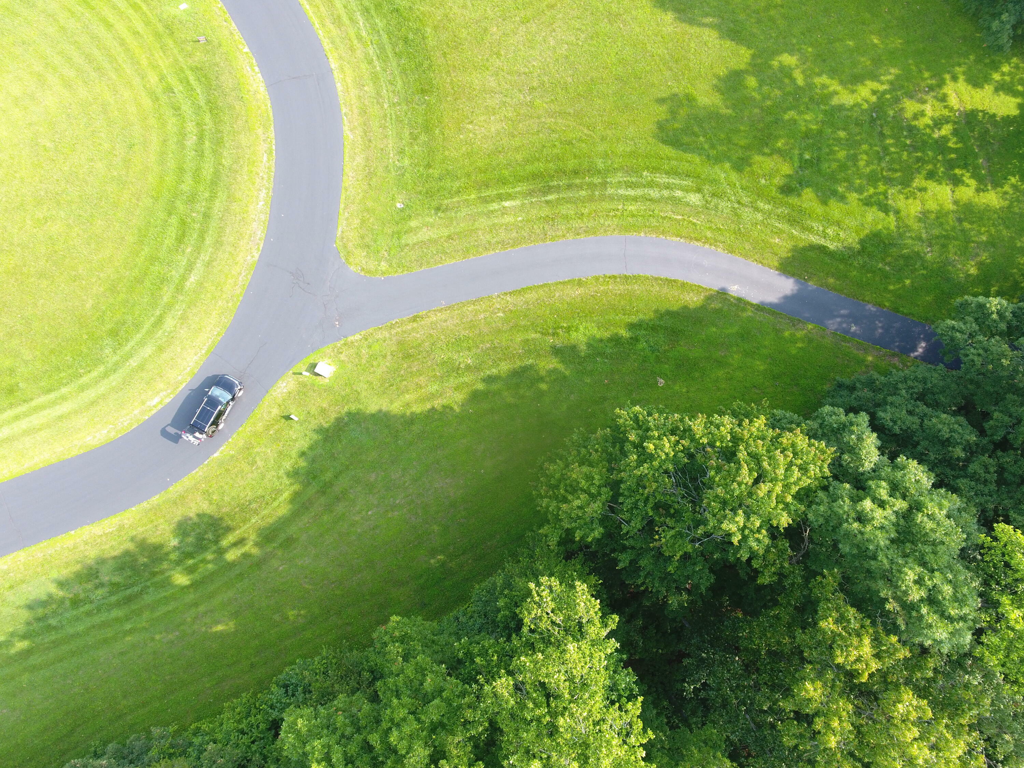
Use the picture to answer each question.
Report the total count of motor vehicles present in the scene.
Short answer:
1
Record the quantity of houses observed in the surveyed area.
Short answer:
zero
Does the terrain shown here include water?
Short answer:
No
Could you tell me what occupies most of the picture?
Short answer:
grass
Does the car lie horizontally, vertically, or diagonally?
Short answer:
diagonally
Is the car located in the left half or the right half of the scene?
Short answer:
left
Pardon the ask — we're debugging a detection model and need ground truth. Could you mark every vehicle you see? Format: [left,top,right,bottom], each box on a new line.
[182,371,246,445]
